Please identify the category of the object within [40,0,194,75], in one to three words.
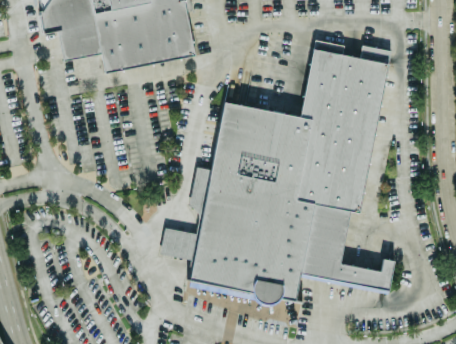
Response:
building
